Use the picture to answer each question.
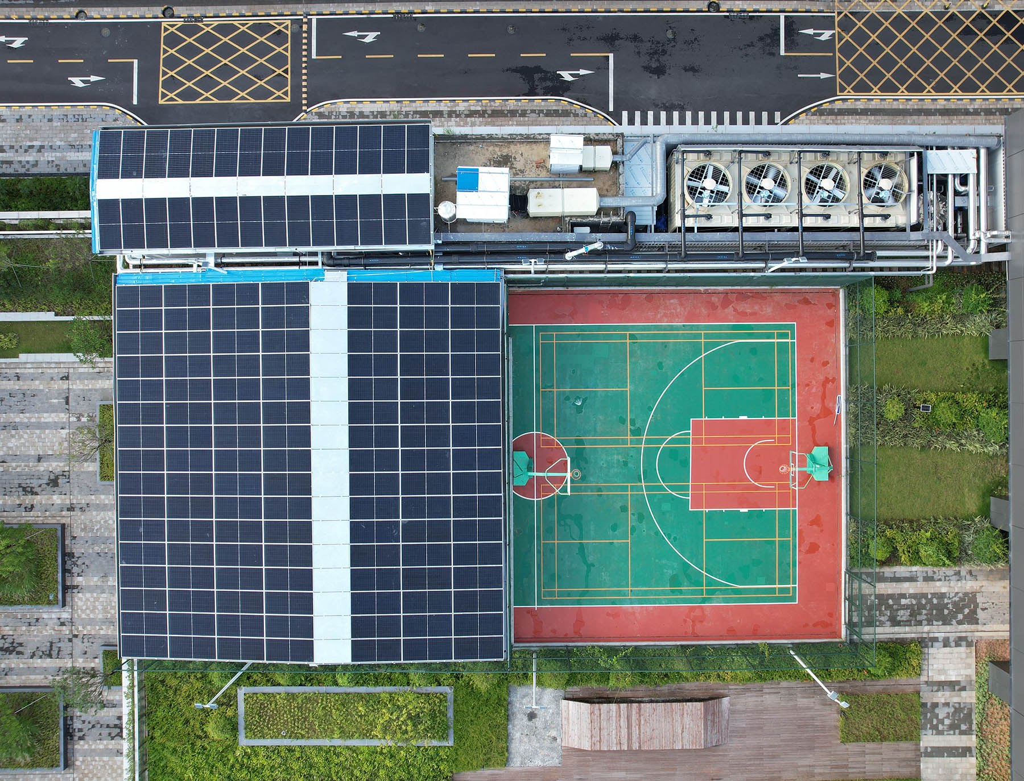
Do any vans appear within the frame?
No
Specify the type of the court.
basketball court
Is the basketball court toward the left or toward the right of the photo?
right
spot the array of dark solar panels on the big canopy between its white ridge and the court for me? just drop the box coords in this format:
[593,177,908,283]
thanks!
[348,282,504,663]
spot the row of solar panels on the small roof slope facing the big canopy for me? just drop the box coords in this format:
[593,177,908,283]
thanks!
[97,193,432,250]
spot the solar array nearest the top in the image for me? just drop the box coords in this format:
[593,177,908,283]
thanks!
[97,125,431,179]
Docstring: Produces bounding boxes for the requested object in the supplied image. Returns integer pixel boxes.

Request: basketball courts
[502,288,849,649]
